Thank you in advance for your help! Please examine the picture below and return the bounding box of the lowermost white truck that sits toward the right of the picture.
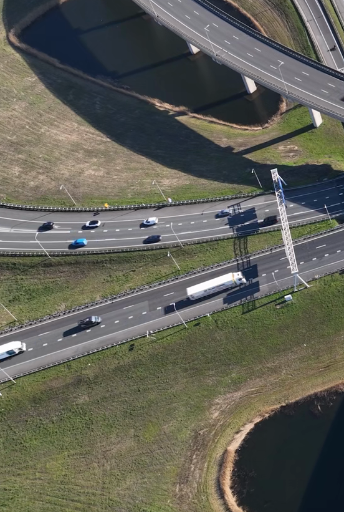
[184,272,247,300]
